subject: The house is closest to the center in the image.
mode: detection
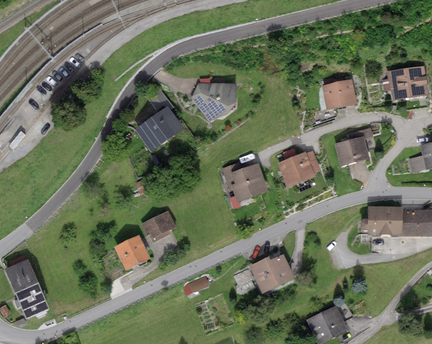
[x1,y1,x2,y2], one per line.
[220,164,268,202]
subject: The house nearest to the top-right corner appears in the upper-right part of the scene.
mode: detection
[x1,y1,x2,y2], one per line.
[382,66,428,102]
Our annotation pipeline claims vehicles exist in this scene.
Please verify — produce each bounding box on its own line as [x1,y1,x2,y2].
[45,320,56,326]
[416,137,428,142]
[264,242,269,252]
[252,247,259,258]
[74,53,84,62]
[40,124,50,134]
[340,333,350,341]
[58,66,69,77]
[326,240,337,250]
[28,98,38,108]
[69,56,80,67]
[46,76,56,86]
[40,81,52,91]
[36,86,46,94]
[372,239,384,244]
[51,71,62,81]
[63,62,74,72]
[239,154,254,162]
